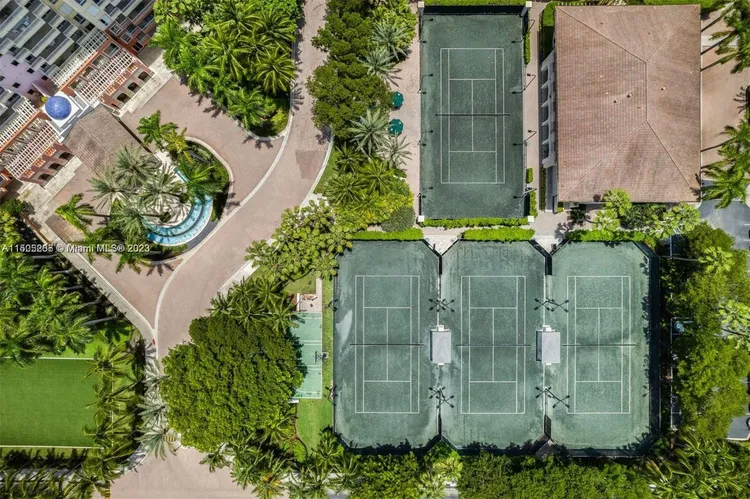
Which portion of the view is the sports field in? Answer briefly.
bottom left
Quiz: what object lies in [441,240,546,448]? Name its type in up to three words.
tennis court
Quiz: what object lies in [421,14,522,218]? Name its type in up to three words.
tennis court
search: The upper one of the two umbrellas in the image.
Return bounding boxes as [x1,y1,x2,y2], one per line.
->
[390,94,405,108]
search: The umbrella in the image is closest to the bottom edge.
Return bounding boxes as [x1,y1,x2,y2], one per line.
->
[389,119,404,135]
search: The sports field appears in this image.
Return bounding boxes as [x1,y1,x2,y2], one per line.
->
[0,358,112,448]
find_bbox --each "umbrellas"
[390,94,405,108]
[389,119,404,135]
